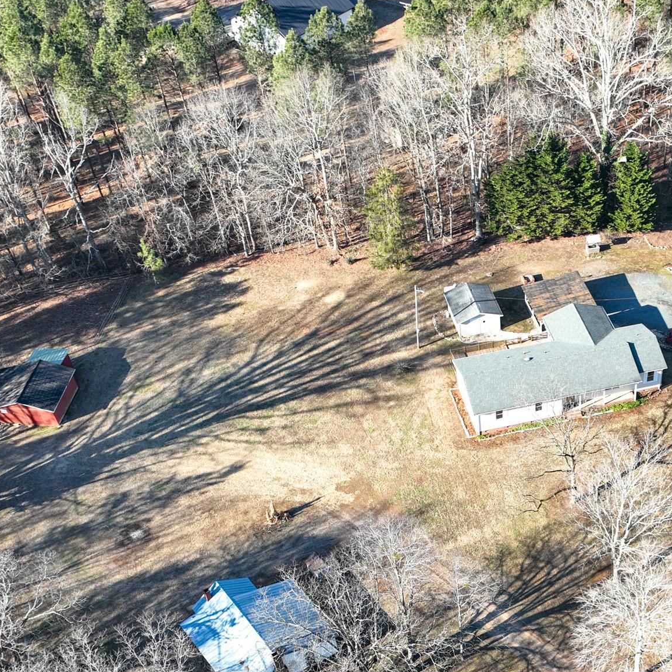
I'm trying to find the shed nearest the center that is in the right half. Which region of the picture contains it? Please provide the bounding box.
[445,282,503,343]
